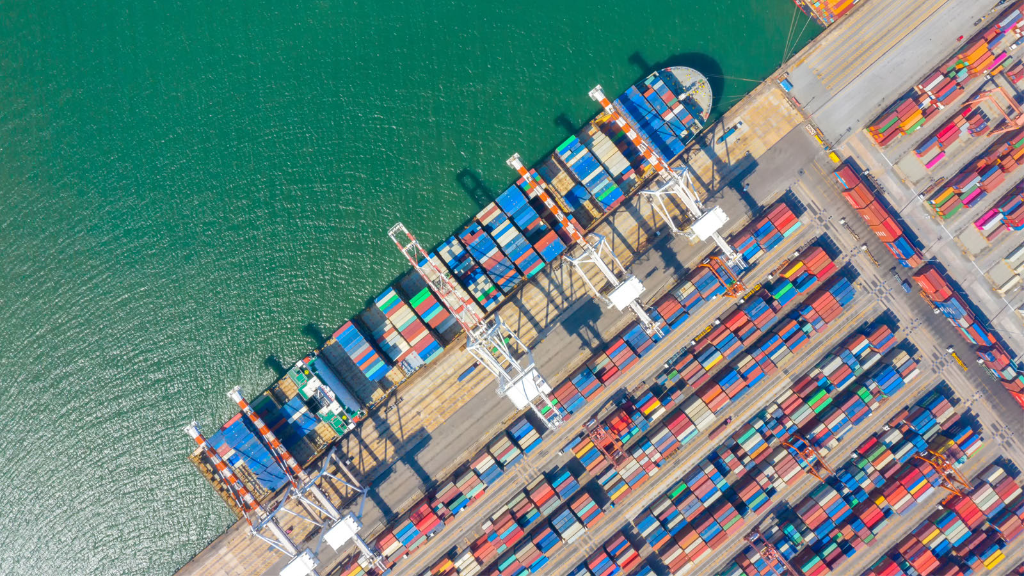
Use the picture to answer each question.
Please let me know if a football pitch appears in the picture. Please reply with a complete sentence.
No, there is no football pitch in the image.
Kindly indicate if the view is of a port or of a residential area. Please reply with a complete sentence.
What you see here is a port.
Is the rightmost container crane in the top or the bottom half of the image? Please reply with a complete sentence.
You can find the rightmost container crane in the top half.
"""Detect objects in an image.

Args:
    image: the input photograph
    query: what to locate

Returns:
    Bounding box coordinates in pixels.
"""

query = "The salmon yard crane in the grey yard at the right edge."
[961,86,1024,139]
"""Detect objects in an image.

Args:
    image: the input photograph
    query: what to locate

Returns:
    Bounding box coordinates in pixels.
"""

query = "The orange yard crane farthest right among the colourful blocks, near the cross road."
[916,449,974,499]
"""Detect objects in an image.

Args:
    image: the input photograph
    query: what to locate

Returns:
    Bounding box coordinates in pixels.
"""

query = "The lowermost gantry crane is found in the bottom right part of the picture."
[743,527,796,576]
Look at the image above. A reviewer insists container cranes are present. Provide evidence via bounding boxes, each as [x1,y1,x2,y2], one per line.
[506,148,665,337]
[183,420,335,576]
[697,255,748,299]
[916,449,974,499]
[961,86,1024,139]
[586,79,746,271]
[743,527,796,576]
[388,223,566,429]
[581,414,627,468]
[782,432,835,484]
[226,384,388,567]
